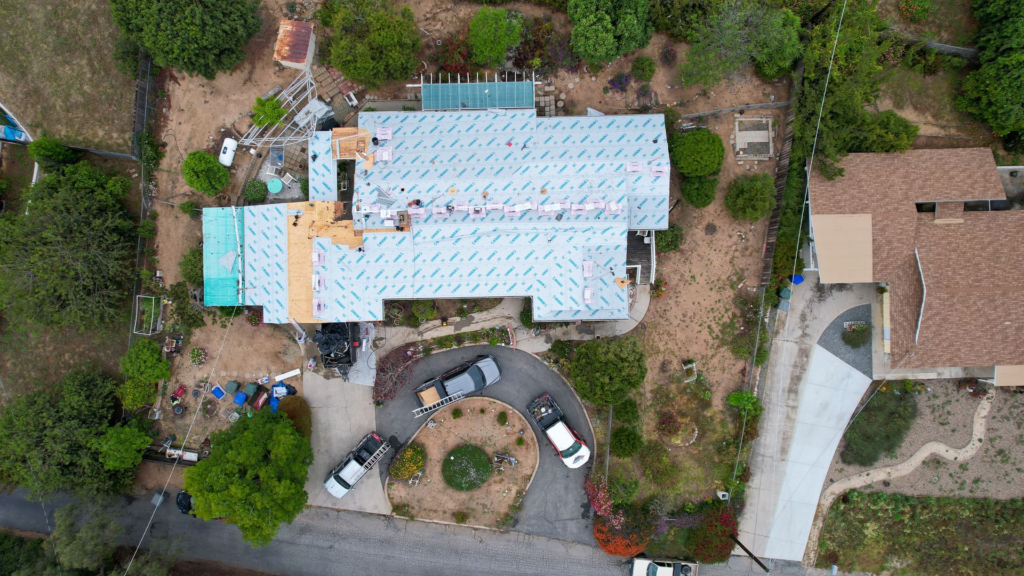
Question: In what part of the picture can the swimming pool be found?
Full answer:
The swimming pool is located in the top left region of the scene.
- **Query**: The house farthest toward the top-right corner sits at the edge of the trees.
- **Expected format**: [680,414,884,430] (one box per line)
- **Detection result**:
[804,145,1024,386]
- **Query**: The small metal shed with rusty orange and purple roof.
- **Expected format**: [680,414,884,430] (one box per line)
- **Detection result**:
[271,19,315,68]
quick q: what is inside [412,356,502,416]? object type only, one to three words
truck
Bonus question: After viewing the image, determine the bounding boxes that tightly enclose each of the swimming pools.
[0,100,37,145]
